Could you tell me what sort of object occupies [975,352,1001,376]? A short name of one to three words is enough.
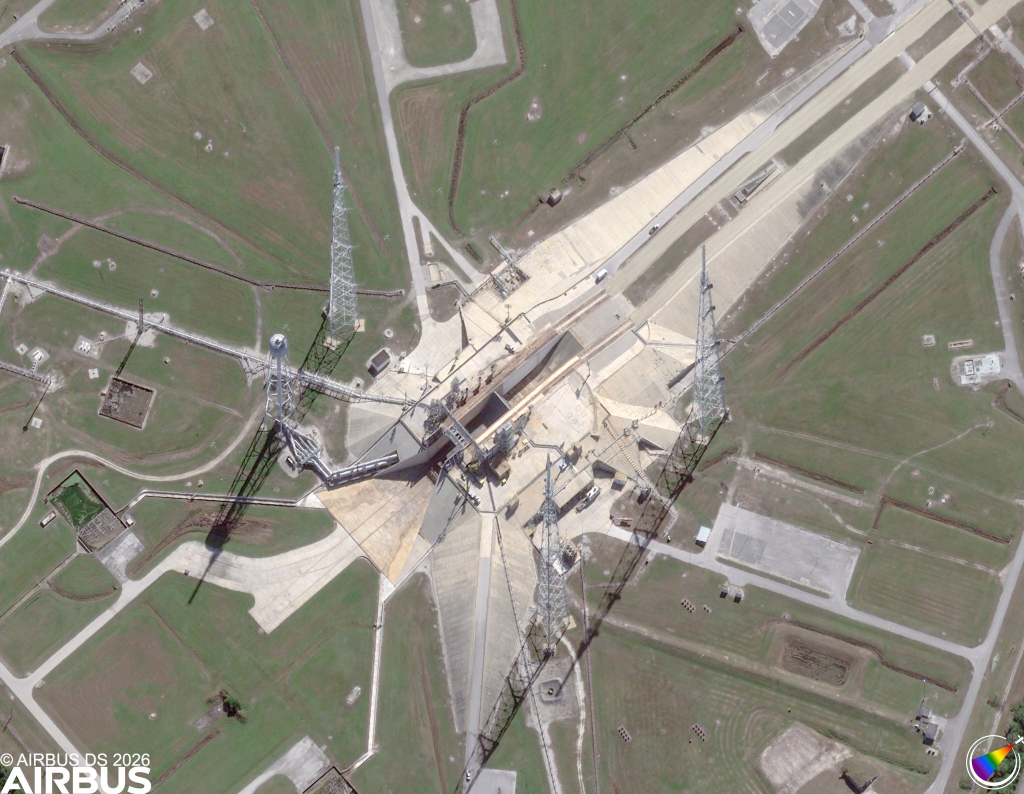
building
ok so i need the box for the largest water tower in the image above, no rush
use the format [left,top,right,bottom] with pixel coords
[261,336,299,438]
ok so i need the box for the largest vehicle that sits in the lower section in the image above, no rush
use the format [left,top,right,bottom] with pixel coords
[576,489,598,513]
